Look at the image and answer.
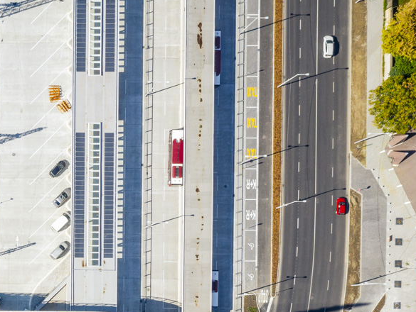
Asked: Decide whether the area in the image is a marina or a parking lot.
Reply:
parking lot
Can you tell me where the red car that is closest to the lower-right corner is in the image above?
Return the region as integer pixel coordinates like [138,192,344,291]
[336,197,348,217]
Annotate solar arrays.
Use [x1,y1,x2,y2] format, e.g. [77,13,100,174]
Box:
[77,0,87,71]
[106,0,116,71]
[77,132,86,258]
[105,132,115,258]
